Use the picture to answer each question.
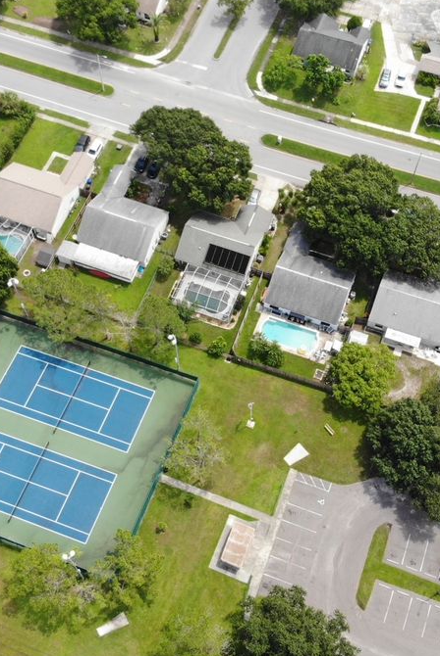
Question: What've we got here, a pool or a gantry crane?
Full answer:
This aerial view contains a pool.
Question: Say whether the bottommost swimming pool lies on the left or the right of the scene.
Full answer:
The bottommost swimming pool appears in the right half of the scene.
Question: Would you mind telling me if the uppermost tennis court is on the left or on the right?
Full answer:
The uppermost tennis court sits on the left side.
